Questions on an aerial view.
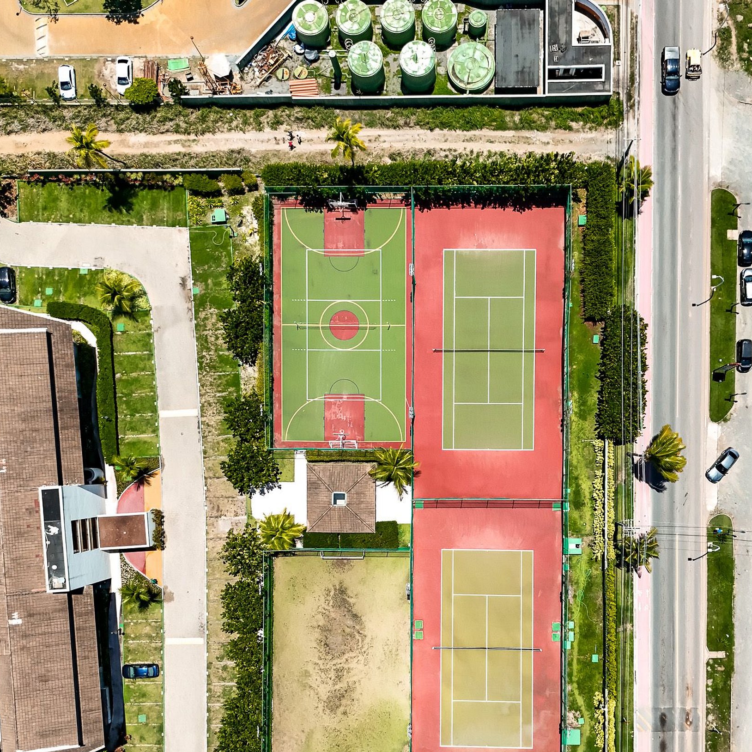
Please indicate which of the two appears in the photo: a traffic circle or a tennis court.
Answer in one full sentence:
Looking from above, you can make out a tennis court.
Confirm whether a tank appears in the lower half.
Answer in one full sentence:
No, I see no tank in the lower half.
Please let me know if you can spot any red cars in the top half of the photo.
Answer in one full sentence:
No, I see no red car in the top half of the photo.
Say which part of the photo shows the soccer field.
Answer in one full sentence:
The soccer field appears toward the bottom of the photo.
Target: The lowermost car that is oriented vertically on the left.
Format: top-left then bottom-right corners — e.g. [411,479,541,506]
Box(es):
[0,266,16,304]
